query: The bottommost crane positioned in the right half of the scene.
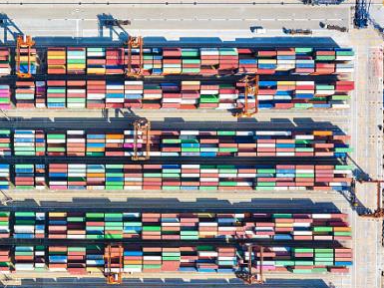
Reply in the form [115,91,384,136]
[235,239,264,285]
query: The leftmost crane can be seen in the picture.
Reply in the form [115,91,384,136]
[16,35,36,81]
